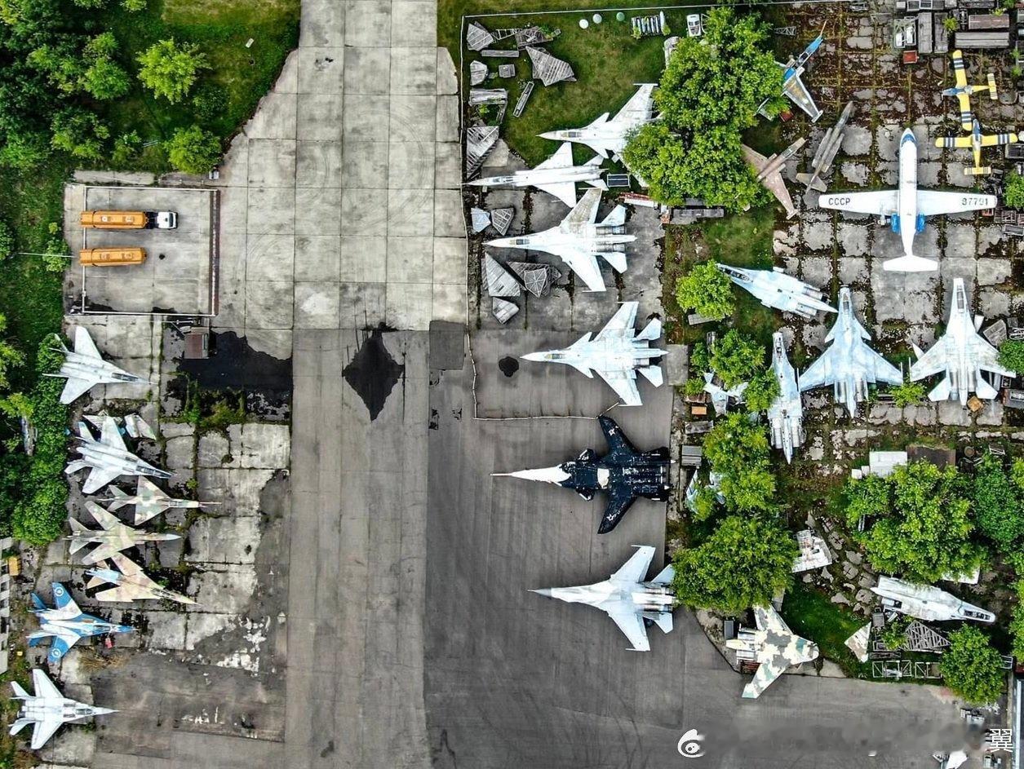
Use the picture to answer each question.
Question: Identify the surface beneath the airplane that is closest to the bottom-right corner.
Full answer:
In this view, the airplane that is closest to the bottom-right corner is located on the grass.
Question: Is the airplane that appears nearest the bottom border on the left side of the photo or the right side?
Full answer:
The airplane that appears nearest the bottom border appears in the left half of the scene.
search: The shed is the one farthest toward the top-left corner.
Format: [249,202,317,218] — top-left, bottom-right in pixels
[184,327,216,358]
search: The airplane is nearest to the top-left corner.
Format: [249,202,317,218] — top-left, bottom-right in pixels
[37,326,154,405]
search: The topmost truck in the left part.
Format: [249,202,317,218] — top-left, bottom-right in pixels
[78,208,187,231]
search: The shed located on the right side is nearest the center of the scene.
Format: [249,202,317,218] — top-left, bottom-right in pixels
[681,444,703,466]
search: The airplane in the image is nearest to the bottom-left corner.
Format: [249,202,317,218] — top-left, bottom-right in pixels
[0,670,119,749]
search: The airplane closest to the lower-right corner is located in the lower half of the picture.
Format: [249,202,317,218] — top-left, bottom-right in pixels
[871,577,997,625]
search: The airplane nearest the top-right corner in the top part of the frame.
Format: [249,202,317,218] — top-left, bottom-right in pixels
[941,50,998,129]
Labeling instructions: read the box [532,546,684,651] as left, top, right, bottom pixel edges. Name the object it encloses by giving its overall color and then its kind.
white airplane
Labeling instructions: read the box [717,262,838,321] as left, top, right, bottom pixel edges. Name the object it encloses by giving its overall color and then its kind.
white airplane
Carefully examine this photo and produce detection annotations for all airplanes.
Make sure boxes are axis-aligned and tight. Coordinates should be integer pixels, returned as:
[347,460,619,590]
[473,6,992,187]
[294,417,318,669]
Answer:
[533,84,686,187]
[820,128,998,271]
[532,546,684,651]
[462,141,605,209]
[726,597,820,702]
[796,101,852,192]
[941,50,998,129]
[18,583,138,662]
[797,286,902,418]
[85,554,205,606]
[479,187,636,291]
[37,326,154,405]
[717,262,838,321]
[936,117,1018,174]
[766,333,804,464]
[910,277,1014,405]
[745,27,830,124]
[723,137,805,217]
[514,303,668,405]
[0,670,119,749]
[91,476,224,525]
[55,502,181,573]
[57,415,177,493]
[871,577,997,625]
[489,417,676,533]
